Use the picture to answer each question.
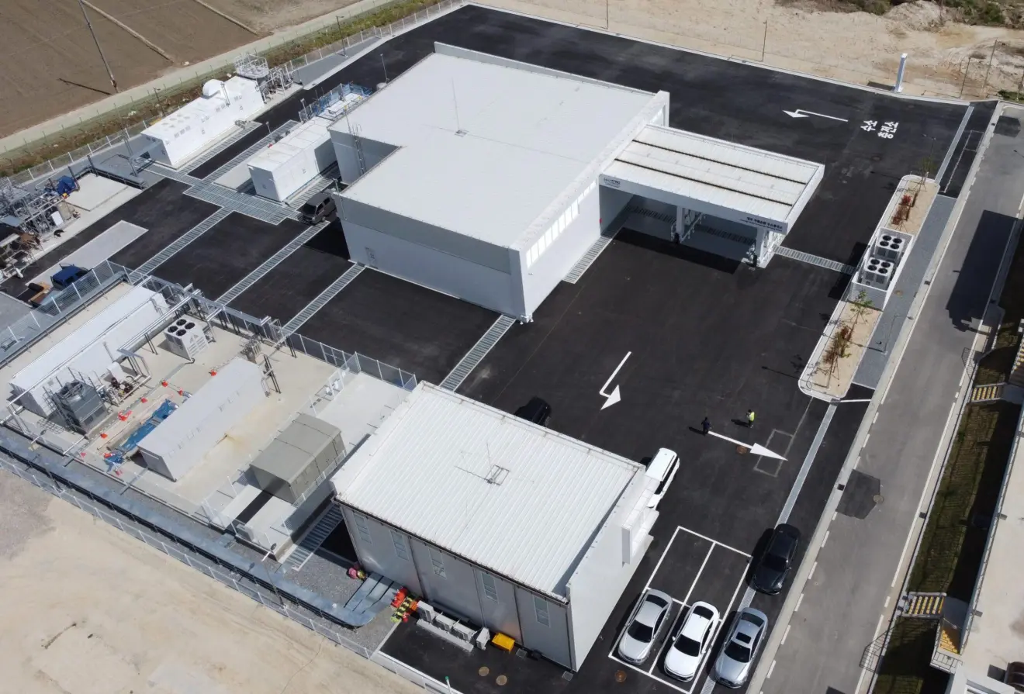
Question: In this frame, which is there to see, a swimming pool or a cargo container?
cargo container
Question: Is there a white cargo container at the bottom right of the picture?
No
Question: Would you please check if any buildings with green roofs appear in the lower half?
No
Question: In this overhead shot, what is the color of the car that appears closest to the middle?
black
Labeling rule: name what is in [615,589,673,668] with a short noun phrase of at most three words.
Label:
car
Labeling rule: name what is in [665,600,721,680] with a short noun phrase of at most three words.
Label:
car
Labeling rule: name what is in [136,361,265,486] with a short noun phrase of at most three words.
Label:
shipping container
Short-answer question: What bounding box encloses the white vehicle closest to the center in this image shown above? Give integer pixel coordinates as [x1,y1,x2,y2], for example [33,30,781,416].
[649,446,683,510]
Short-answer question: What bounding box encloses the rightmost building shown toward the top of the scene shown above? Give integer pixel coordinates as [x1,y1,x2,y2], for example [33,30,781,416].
[312,35,671,324]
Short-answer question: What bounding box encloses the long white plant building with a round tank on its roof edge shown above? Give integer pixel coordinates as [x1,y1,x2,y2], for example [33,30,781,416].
[139,76,266,167]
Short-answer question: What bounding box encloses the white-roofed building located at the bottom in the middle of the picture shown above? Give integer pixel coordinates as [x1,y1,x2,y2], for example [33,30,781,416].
[327,379,663,675]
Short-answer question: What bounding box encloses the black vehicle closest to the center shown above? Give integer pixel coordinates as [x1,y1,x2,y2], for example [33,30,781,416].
[521,397,558,426]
